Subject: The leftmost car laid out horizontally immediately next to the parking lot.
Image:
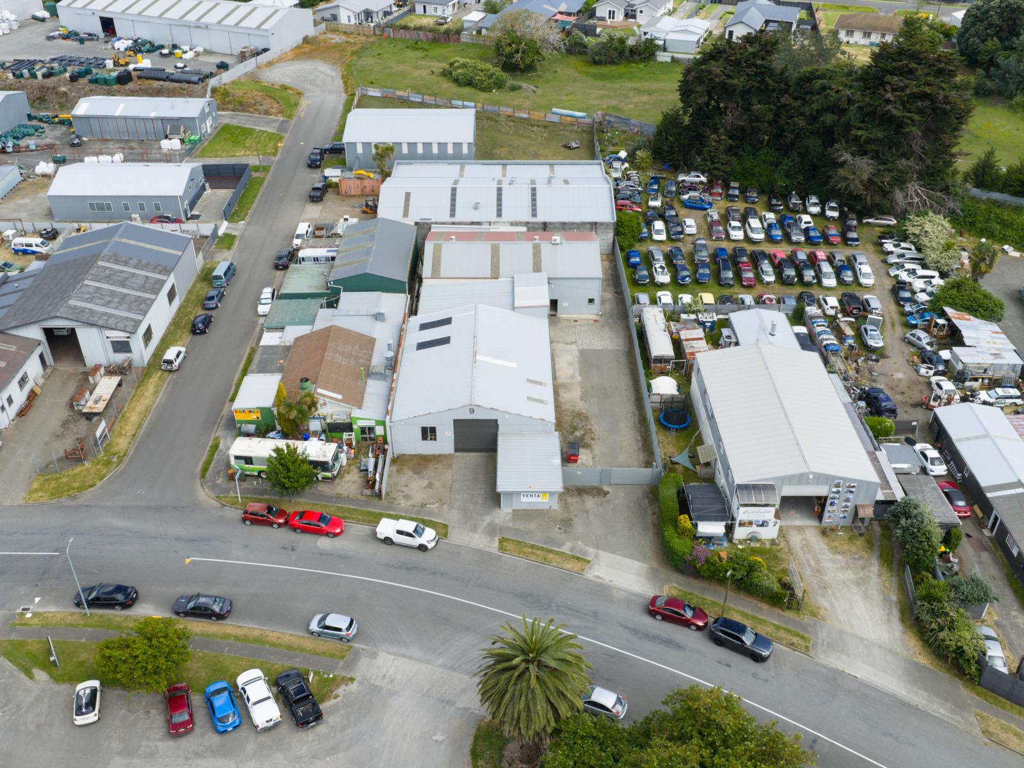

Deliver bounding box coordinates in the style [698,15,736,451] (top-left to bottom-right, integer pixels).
[73,583,140,611]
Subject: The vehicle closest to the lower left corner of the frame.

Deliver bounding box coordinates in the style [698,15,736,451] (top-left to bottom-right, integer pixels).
[70,678,103,732]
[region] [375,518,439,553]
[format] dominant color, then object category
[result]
white truck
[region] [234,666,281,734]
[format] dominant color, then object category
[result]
white truck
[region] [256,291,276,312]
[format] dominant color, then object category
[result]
white car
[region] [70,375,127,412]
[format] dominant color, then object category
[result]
white trailer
